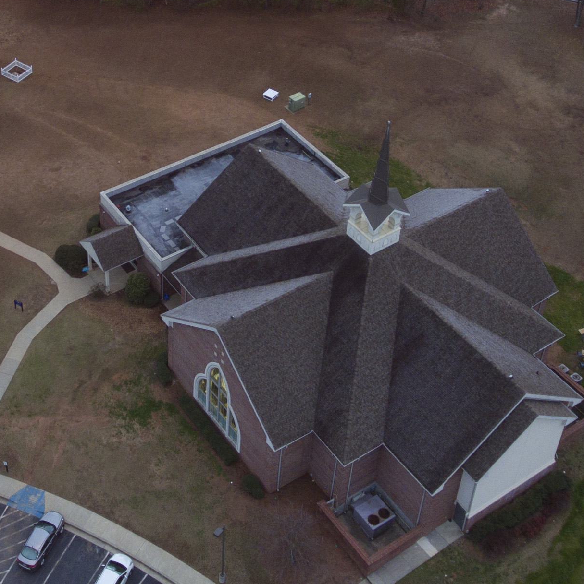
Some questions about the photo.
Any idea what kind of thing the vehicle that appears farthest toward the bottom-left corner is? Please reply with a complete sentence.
I'd say the vehicle that appears farthest toward the bottom-left corner is an automobile.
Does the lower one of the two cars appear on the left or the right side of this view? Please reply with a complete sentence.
The lower one of the two cars is on the left side of the image.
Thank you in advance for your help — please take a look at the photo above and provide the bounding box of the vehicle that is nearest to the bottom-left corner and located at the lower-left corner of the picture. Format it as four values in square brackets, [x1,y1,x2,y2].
[14,511,66,576]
